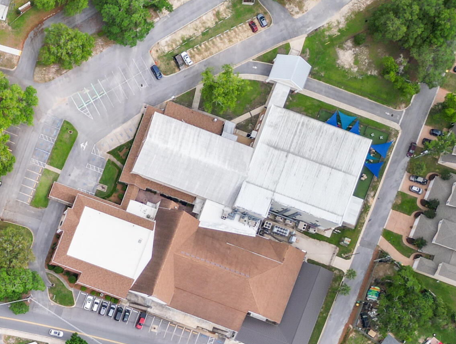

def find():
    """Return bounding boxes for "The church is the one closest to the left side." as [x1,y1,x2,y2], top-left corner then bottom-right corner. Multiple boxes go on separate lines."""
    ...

[48,54,372,344]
